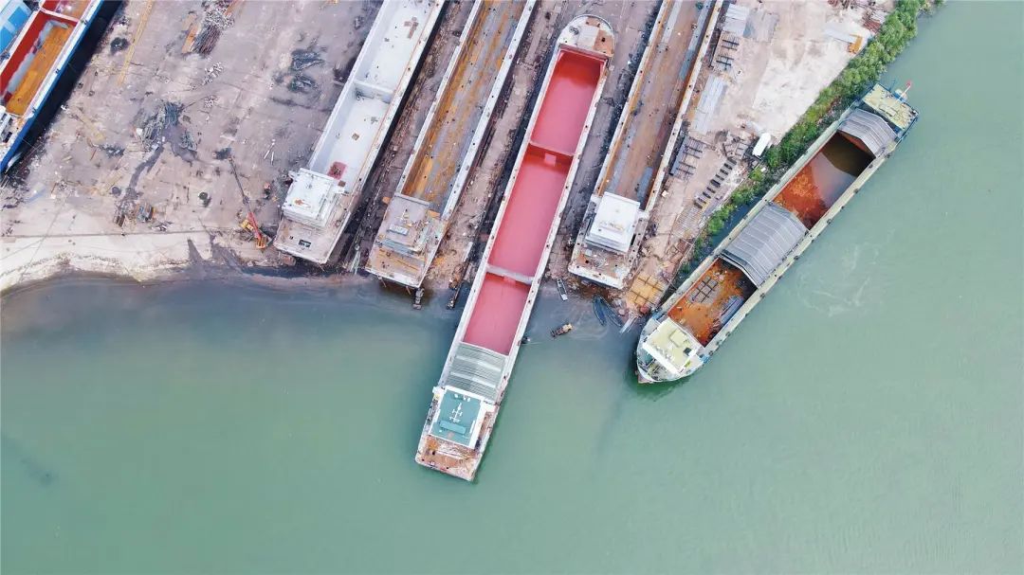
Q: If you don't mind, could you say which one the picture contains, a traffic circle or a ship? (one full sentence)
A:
Of the two, only a ship appears.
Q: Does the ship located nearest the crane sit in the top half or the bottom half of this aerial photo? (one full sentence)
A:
The ship located nearest the crane is in the top half of the image.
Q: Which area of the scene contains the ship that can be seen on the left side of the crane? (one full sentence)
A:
The ship that can be seen on the left side of the crane is in the top left part of the image.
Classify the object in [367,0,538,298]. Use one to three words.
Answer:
ship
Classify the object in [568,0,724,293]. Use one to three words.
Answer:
ship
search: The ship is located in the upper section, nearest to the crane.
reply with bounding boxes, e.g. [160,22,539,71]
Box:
[274,0,450,268]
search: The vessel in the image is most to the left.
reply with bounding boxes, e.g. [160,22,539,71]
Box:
[0,0,126,196]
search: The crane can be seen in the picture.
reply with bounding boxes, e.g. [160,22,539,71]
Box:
[228,157,271,248]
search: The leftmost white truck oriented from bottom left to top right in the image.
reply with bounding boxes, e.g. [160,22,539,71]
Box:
[751,131,773,157]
